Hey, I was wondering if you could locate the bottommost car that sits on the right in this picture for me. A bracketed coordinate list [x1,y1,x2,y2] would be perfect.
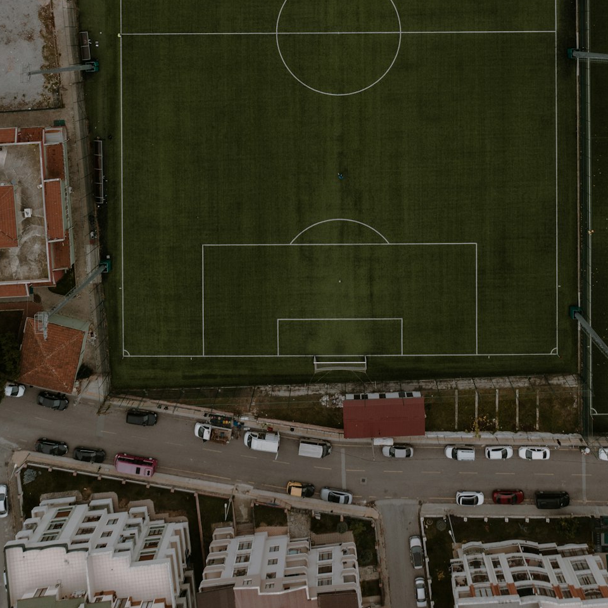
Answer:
[414,575,430,608]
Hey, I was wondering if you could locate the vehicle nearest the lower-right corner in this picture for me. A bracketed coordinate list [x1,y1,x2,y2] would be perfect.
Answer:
[534,490,570,510]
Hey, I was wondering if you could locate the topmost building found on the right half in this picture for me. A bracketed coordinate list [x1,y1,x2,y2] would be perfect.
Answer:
[344,390,425,438]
